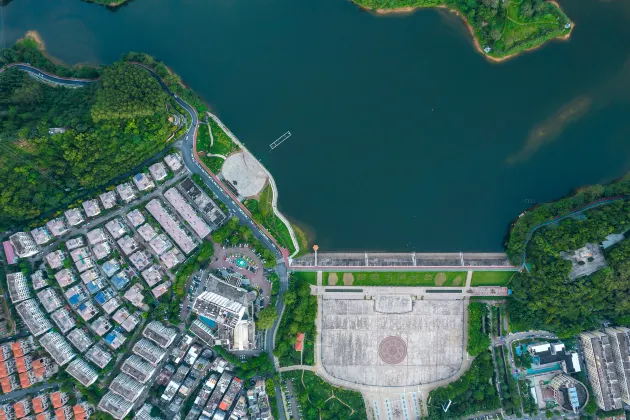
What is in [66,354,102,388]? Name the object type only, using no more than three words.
building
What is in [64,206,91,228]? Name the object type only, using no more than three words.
house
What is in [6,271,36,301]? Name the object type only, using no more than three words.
building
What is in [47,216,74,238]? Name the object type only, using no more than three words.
house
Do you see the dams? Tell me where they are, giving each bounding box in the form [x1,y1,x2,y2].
[289,250,519,287]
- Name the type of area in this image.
residential area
